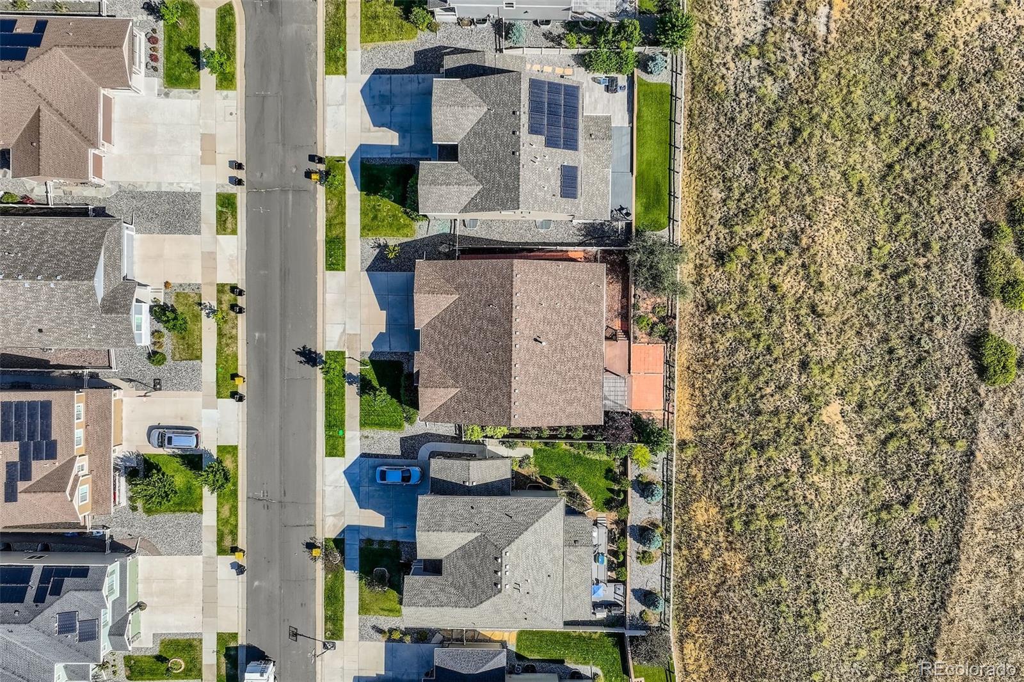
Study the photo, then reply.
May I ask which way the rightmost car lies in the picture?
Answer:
from left to right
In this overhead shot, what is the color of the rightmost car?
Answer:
blue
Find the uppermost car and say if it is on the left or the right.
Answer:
left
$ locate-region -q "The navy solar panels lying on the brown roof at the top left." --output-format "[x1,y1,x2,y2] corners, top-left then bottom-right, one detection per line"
[0,19,48,60]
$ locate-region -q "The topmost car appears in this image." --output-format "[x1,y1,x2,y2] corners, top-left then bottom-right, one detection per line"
[151,428,201,451]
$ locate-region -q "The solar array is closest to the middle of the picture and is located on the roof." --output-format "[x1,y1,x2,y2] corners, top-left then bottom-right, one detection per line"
[561,165,578,198]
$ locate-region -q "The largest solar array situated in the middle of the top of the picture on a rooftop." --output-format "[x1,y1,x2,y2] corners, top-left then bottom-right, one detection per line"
[529,78,579,150]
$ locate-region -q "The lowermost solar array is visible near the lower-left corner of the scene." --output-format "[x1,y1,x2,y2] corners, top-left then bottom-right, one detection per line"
[57,612,98,644]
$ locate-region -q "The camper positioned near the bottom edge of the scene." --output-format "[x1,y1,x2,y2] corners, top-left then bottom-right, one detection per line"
[245,660,279,682]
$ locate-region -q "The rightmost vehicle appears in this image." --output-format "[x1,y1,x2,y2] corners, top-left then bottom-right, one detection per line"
[378,464,423,486]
